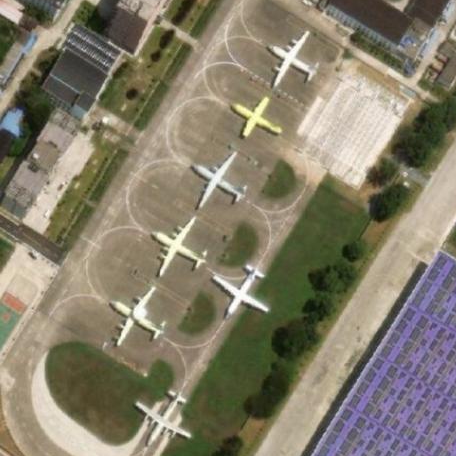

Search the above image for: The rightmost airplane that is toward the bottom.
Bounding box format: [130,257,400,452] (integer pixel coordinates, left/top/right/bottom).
[212,266,269,319]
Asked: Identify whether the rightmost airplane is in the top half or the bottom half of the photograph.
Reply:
top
